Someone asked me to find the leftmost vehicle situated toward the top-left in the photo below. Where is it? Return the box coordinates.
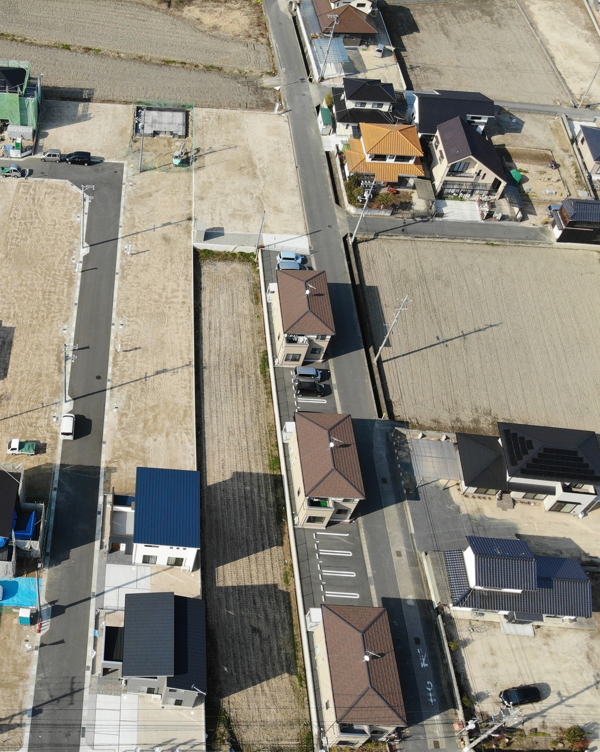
[0,163,21,177]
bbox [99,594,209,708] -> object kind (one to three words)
house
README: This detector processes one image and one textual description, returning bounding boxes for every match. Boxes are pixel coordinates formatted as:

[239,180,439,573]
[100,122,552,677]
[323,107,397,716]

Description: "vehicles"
[8,439,36,455]
[296,381,324,398]
[276,259,310,270]
[276,251,303,263]
[65,149,94,164]
[173,142,186,164]
[0,163,21,177]
[60,409,76,438]
[494,683,547,709]
[41,149,62,162]
[371,41,387,58]
[292,366,323,382]
[543,200,563,214]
